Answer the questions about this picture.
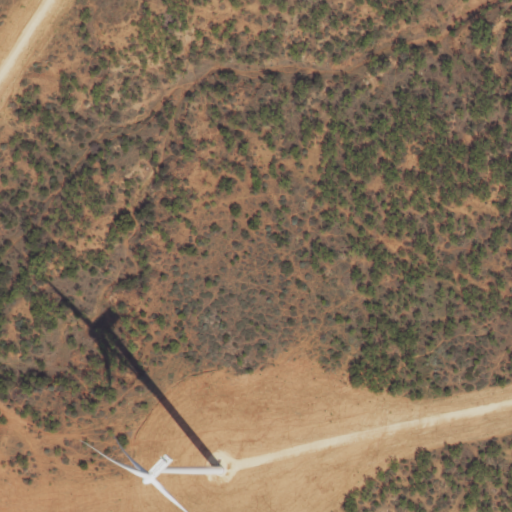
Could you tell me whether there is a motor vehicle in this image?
No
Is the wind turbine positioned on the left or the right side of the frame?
left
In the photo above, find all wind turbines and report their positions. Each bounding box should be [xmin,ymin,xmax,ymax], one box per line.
[78,436,225,512]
